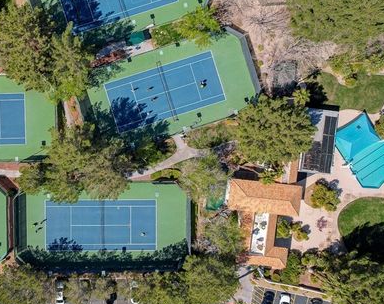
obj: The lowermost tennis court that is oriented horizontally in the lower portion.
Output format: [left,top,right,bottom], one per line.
[14,181,190,263]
